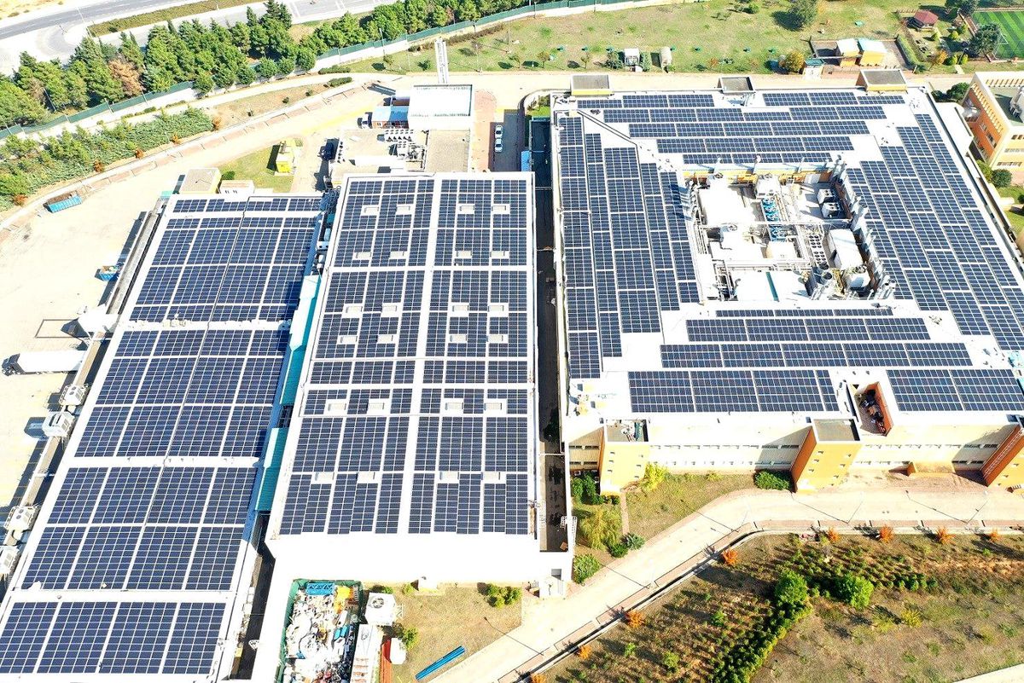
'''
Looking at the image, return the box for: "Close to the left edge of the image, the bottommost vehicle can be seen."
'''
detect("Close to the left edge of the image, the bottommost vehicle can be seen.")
[5,352,85,376]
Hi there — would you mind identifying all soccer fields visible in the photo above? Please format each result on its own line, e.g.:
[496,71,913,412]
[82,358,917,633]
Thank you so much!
[974,10,1024,59]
